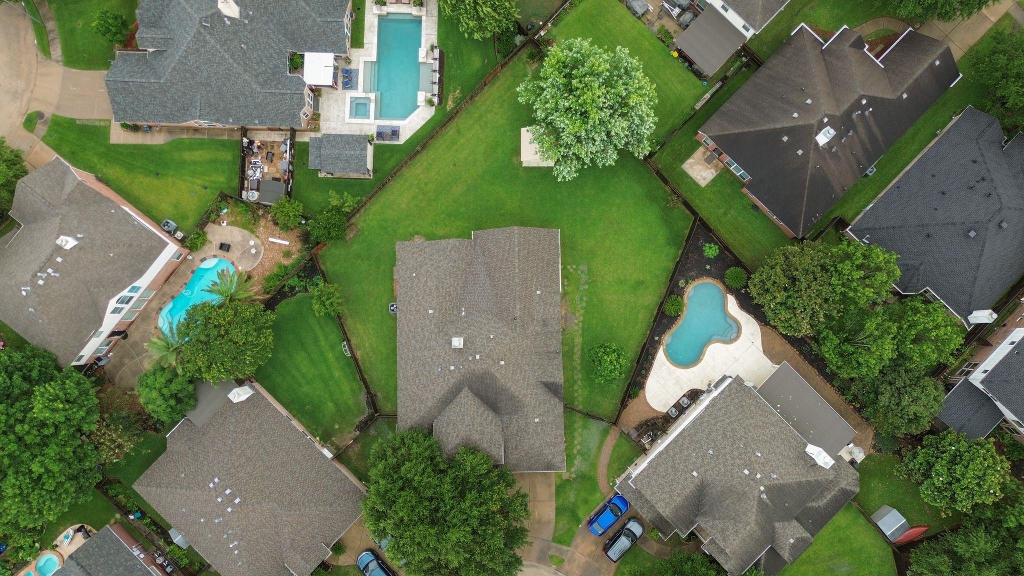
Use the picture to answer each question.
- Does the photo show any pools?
Yes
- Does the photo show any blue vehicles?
Yes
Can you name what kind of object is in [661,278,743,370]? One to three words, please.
swimming pool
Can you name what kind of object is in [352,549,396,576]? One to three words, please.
car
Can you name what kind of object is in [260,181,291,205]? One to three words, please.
shed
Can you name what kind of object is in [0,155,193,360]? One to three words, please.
house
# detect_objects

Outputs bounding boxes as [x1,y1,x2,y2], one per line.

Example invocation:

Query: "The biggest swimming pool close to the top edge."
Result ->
[360,13,436,123]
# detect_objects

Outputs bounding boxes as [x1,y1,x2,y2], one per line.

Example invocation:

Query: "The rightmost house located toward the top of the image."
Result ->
[835,104,1024,331]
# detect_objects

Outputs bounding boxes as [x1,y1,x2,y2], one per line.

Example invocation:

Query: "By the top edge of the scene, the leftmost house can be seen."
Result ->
[105,0,355,132]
